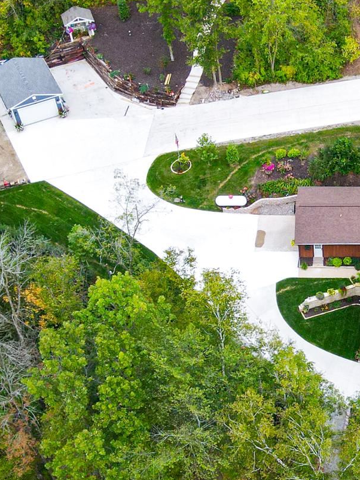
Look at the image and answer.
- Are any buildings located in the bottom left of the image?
No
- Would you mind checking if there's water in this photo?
No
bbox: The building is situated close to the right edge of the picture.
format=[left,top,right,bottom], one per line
[294,187,360,266]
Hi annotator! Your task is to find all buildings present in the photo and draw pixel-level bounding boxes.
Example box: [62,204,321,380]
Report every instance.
[59,2,94,41]
[0,57,65,127]
[294,187,360,266]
